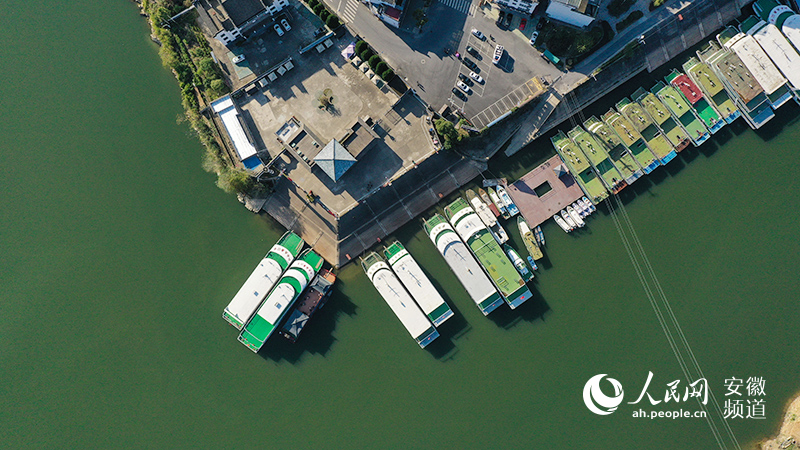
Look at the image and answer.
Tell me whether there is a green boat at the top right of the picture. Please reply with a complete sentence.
Yes, looking at the top right of the picture, one can make out a green boat.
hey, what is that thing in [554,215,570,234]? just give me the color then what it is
white boat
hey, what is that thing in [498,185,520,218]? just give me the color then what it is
white boat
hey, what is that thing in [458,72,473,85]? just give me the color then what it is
black vehicle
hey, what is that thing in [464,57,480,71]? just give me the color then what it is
black car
